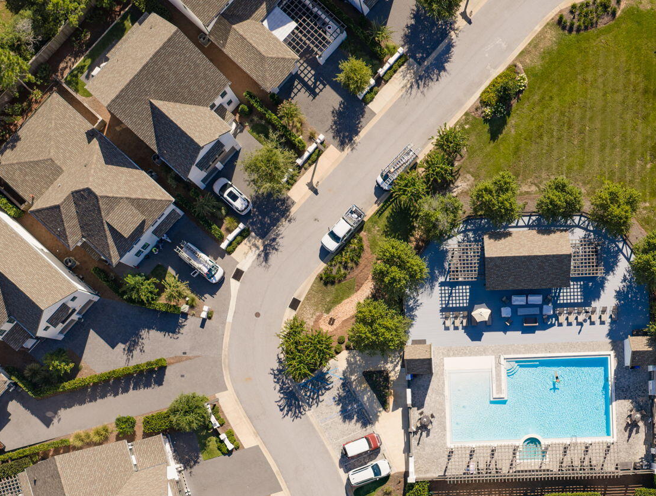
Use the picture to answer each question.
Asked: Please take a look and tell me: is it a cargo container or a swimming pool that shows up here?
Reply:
swimming pool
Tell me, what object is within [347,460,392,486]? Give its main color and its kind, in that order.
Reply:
white car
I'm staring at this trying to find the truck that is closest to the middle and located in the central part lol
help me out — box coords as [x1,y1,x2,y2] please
[320,200,369,252]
